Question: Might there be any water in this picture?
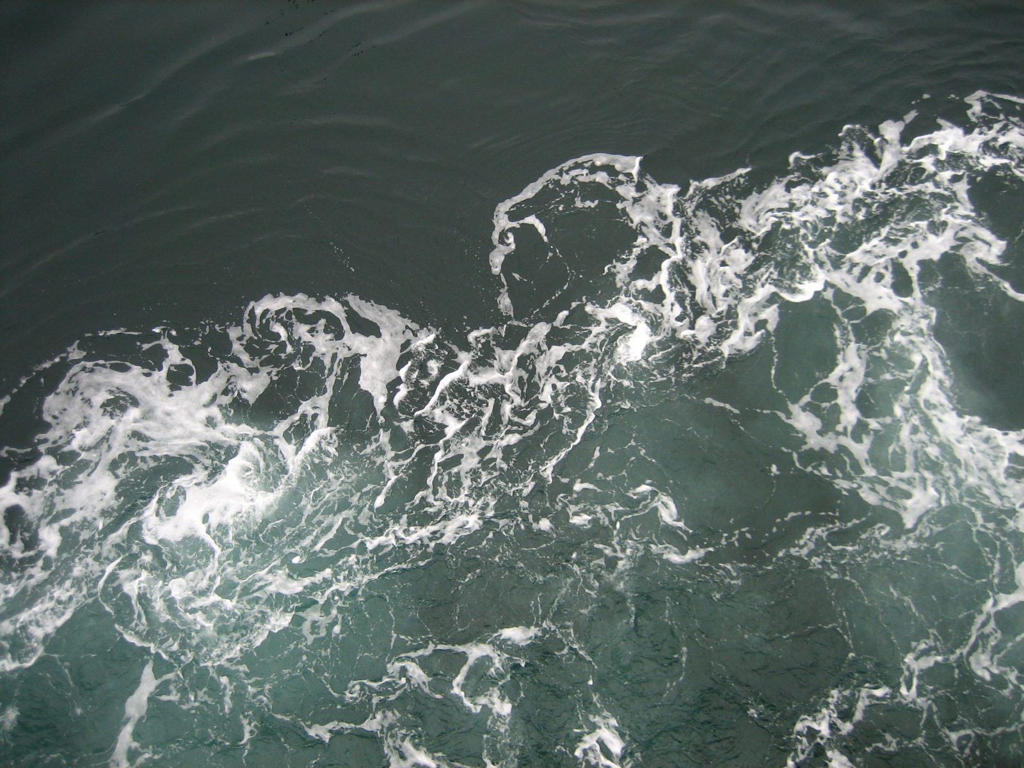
Yes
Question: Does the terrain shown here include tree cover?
No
